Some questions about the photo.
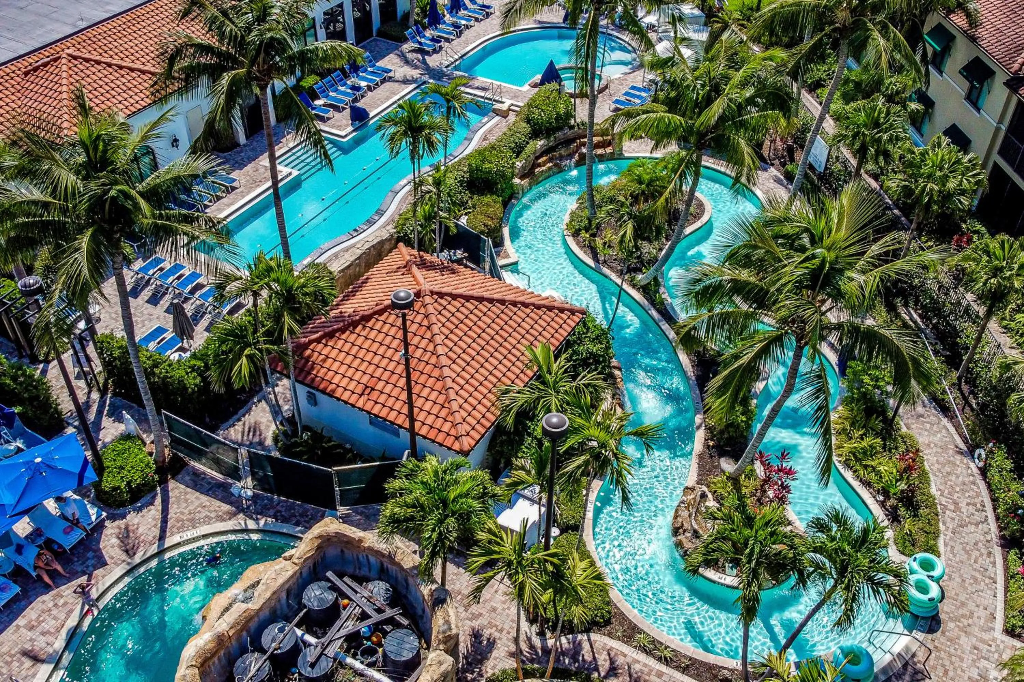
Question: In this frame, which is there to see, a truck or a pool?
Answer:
pool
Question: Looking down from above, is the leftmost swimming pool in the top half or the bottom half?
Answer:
bottom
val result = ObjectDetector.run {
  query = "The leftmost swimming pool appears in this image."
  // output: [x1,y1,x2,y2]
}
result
[61,540,317,682]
